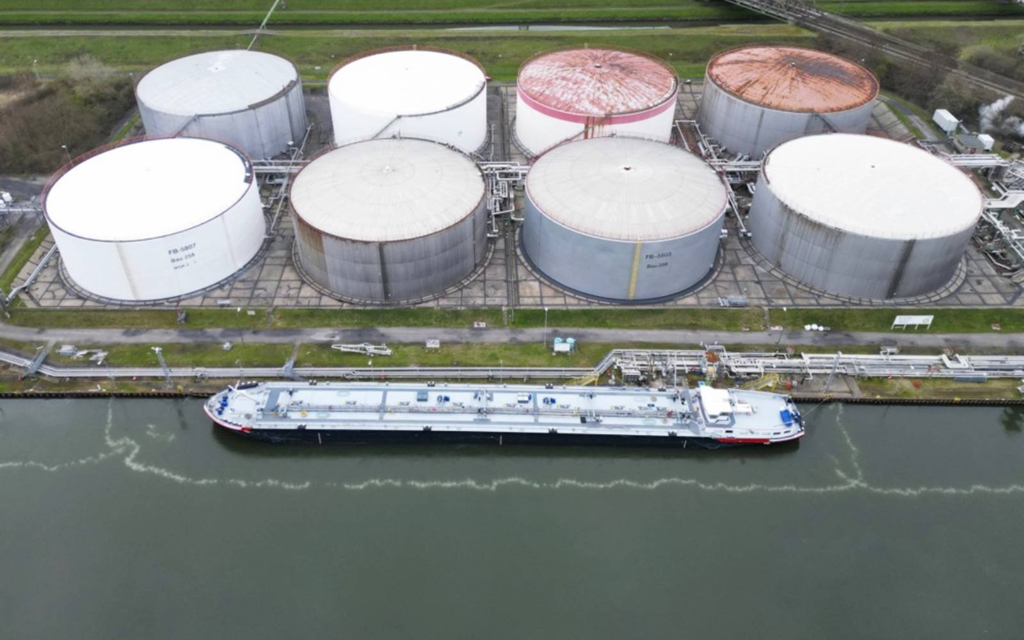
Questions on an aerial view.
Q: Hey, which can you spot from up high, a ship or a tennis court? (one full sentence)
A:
This aerial view contains a ship.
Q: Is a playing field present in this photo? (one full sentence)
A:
No, this view has no playing field in it.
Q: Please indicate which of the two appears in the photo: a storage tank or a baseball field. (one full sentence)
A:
The image shows a storage tank.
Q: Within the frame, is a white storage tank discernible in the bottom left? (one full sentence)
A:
No, no white storage tank appears in the bottom left.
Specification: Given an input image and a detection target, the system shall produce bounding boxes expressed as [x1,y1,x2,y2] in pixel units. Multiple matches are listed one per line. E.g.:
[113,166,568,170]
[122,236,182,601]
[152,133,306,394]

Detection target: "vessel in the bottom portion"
[203,351,803,453]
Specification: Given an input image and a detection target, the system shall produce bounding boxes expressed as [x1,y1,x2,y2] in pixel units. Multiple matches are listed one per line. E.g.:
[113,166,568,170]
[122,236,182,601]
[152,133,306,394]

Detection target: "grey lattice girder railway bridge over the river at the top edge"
[725,0,812,26]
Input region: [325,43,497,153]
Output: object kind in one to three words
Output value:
storage tank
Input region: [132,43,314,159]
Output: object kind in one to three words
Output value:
storage tank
